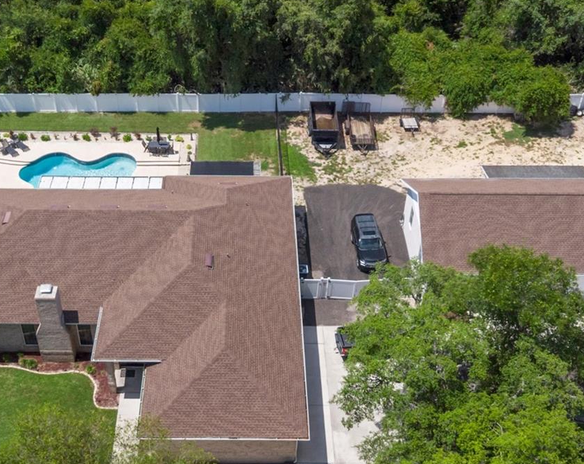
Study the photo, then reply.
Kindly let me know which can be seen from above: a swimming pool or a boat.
swimming pool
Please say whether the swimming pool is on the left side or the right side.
left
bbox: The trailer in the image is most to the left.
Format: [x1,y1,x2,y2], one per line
[306,95,341,158]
